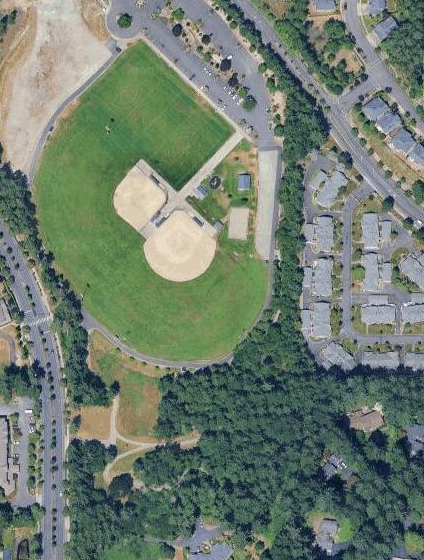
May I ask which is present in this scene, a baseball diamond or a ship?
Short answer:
baseball diamond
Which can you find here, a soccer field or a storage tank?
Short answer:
soccer field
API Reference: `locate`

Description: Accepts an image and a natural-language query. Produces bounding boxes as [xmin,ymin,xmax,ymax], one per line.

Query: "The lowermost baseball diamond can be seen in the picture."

[71,211,270,363]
